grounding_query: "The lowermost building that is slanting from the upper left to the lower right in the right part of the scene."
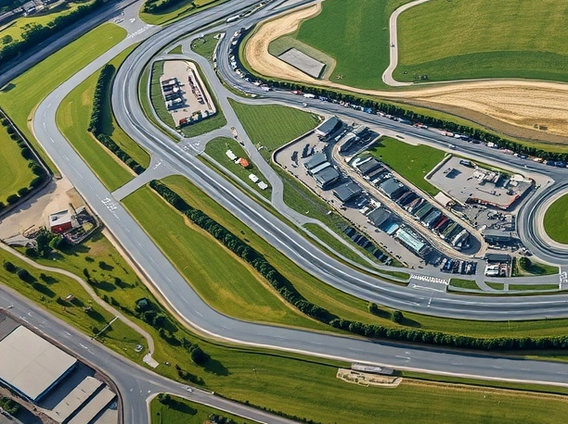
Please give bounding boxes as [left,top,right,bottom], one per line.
[394,227,423,256]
